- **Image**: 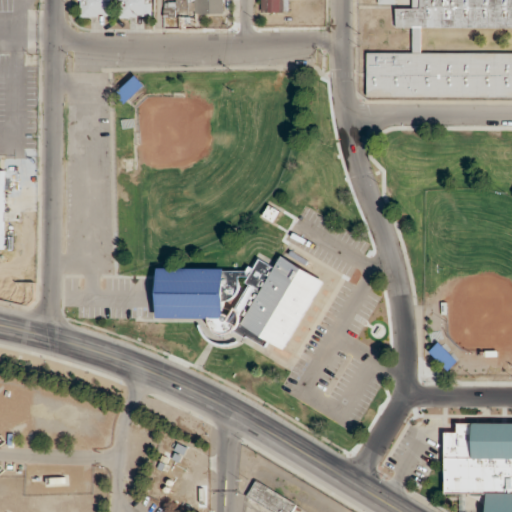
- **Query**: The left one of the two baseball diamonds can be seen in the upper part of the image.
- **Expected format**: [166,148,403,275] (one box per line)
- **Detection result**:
[138,74,297,256]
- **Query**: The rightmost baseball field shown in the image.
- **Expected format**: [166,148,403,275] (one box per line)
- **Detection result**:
[426,190,512,353]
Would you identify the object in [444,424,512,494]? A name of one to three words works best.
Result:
building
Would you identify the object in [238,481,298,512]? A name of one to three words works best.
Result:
building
